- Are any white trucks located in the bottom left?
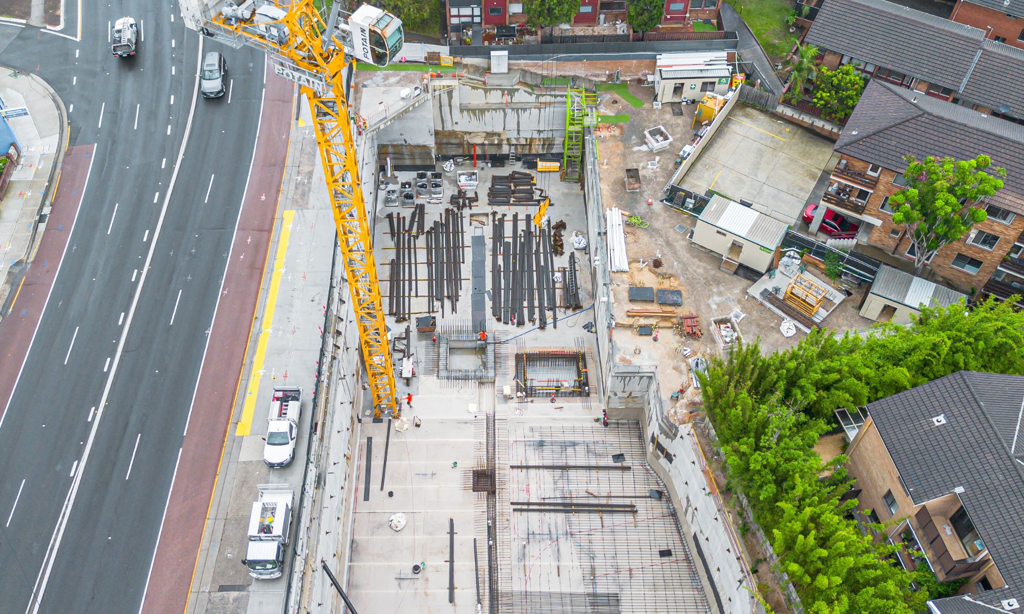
Yes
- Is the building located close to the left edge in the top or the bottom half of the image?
top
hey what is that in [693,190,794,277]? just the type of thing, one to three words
shed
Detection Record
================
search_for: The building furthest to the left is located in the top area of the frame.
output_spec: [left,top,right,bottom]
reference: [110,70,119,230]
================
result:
[0,102,29,155]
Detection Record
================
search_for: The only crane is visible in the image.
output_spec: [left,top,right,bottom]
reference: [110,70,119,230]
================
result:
[170,0,410,420]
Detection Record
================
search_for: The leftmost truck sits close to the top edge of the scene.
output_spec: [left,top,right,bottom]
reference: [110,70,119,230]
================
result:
[107,17,135,54]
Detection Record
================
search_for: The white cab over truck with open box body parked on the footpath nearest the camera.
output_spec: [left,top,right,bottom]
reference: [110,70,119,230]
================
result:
[234,484,292,585]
